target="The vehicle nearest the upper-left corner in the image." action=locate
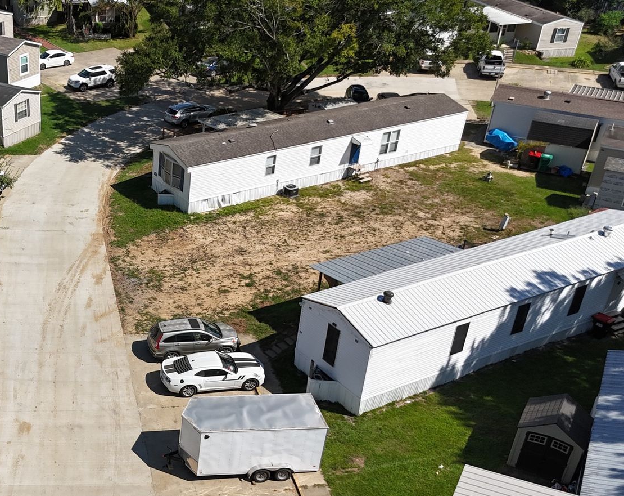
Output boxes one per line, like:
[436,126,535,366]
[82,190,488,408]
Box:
[41,49,77,70]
